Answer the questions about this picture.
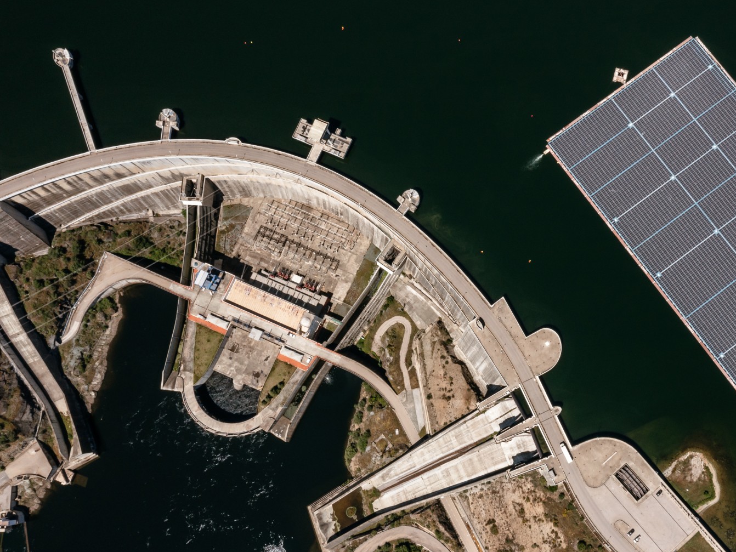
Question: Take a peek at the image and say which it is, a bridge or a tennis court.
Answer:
bridge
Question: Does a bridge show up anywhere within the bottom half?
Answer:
Yes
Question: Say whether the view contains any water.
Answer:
Yes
